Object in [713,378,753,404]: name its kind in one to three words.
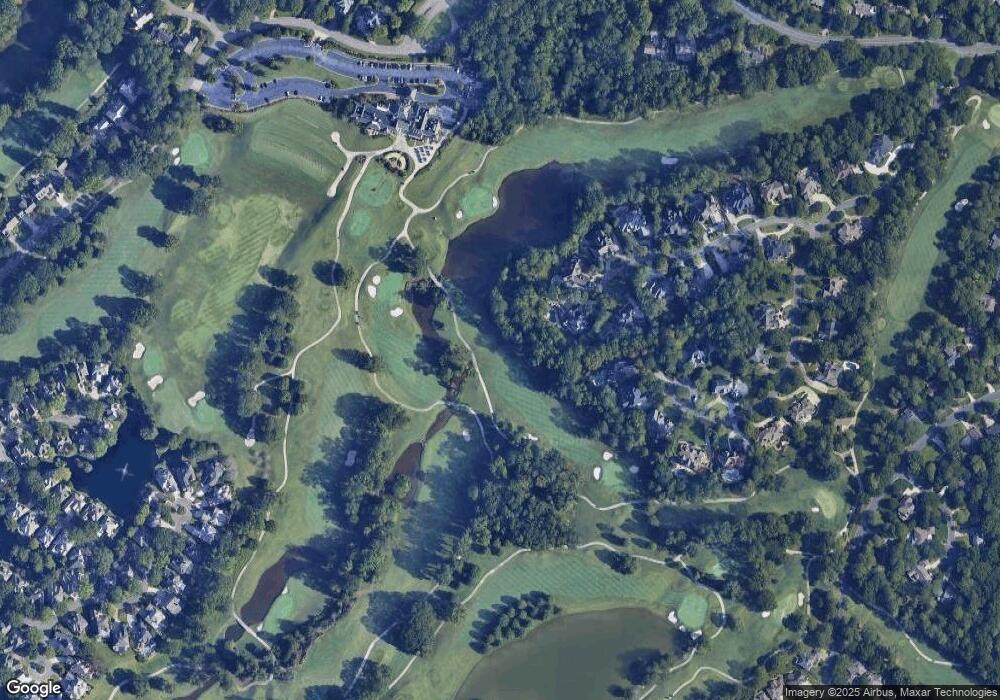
house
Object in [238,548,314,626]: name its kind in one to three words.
pond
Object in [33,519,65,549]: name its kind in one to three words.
house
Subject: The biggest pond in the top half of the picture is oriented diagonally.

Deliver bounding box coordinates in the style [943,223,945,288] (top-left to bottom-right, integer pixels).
[440,162,598,338]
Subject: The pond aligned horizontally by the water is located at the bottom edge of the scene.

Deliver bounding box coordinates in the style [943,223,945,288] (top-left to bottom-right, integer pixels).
[456,606,688,700]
